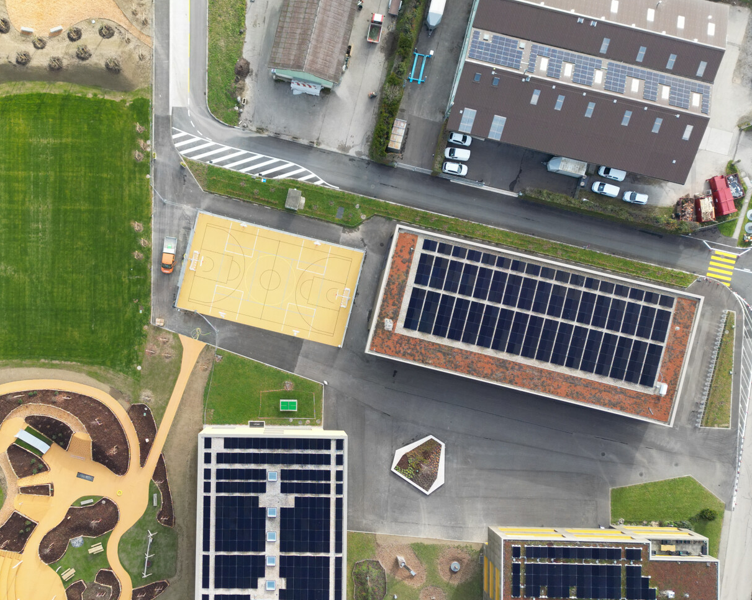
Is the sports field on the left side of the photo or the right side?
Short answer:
left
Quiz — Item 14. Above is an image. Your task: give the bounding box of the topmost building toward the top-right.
[442,0,730,190]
